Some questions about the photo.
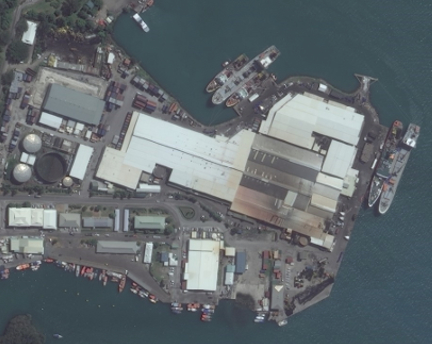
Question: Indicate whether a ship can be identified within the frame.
Yes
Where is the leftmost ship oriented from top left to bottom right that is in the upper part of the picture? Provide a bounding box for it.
[134,12,148,31]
